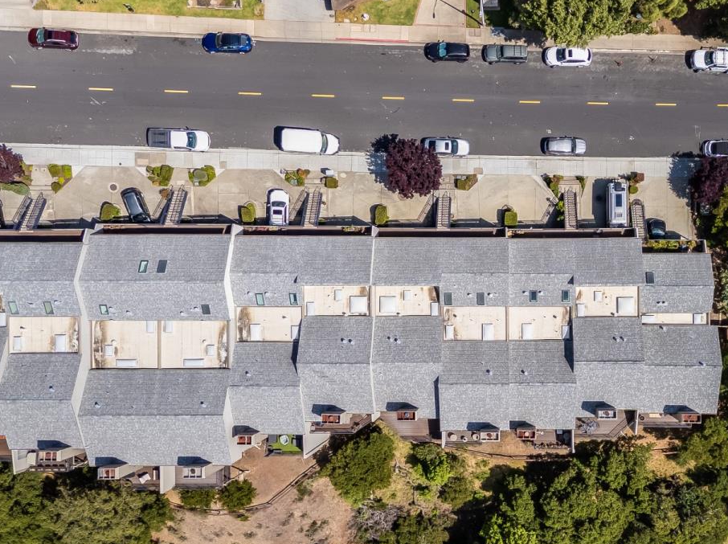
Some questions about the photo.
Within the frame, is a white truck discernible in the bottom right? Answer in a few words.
No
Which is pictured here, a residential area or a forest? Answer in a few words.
residential area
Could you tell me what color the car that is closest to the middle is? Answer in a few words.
white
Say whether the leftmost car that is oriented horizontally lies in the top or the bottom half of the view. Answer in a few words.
top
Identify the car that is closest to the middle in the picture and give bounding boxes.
[266,183,291,226]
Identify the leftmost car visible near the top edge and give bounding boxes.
[26,24,84,53]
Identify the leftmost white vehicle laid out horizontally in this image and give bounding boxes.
[146,126,214,153]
